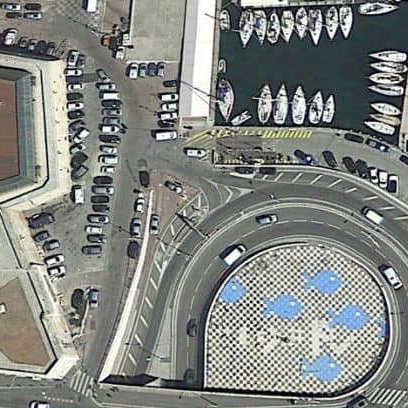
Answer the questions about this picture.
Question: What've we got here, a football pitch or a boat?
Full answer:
Looking from above, you can make out a boat.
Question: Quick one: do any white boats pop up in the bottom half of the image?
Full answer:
No, there is no white boat in the bottom half of the image.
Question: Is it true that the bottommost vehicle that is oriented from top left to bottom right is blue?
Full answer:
No, the bottommost vehicle that is oriented from top left to bottom right is actually white.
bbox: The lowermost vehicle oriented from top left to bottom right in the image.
[381,265,401,289]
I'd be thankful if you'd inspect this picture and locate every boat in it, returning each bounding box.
[270,83,288,124]
[254,84,273,124]
[324,7,339,39]
[219,60,226,75]
[368,84,405,96]
[364,122,396,133]
[371,62,408,73]
[322,95,336,122]
[370,50,407,62]
[220,7,231,31]
[235,9,254,47]
[294,7,309,39]
[371,103,403,116]
[279,10,294,42]
[233,110,252,124]
[252,10,268,46]
[360,2,398,15]
[306,10,322,45]
[371,113,401,124]
[268,8,281,44]
[337,7,352,39]
[211,79,233,122]
[289,86,307,124]
[309,90,324,124]
[369,73,404,84]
